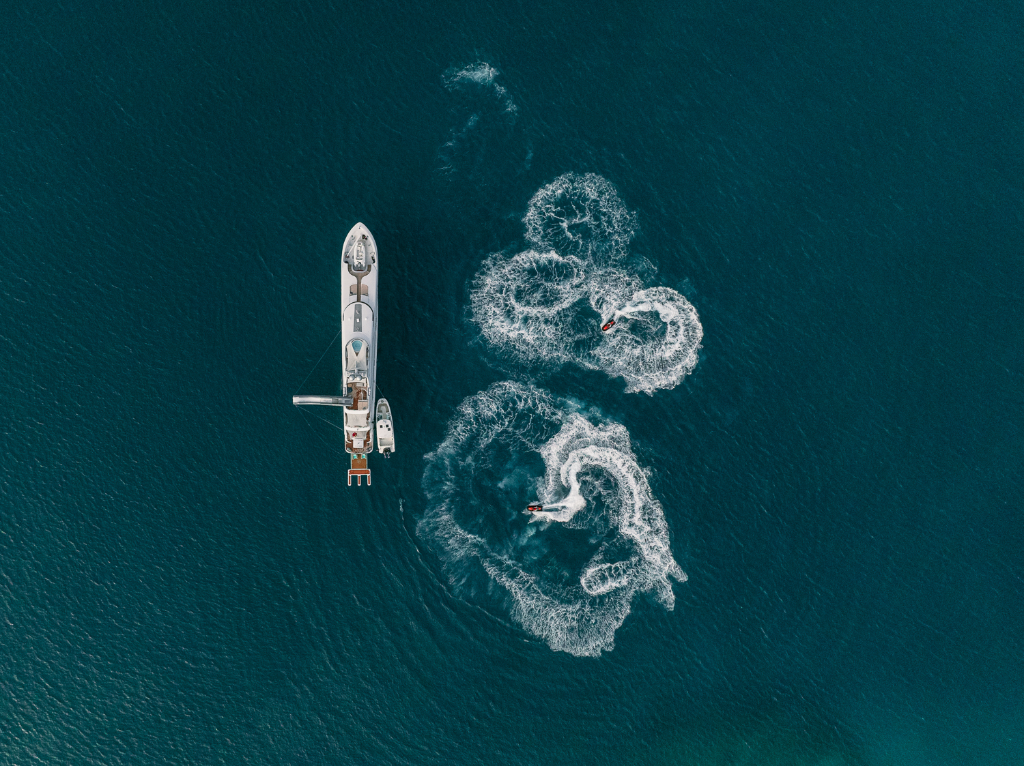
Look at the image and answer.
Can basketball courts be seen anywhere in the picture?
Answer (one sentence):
No, this view has no basketball court in it.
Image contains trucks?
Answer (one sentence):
No, I can't see a single truck in this photo.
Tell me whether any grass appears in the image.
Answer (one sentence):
No, grass can't be seen anywhere here.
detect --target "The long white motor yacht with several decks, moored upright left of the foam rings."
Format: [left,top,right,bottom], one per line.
[342,222,380,453]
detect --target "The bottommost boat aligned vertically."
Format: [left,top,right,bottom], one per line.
[376,398,395,458]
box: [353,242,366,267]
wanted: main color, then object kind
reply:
white boat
